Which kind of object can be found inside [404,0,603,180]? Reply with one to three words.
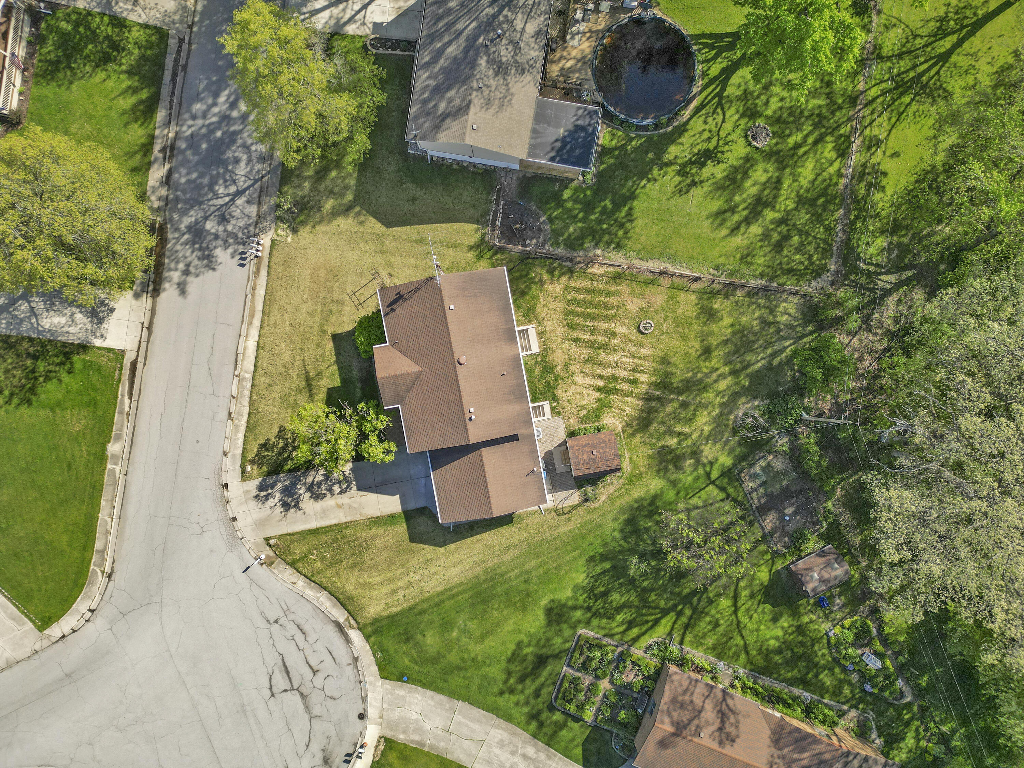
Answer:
house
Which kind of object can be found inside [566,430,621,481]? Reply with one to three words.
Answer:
shed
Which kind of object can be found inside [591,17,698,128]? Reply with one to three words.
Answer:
swimming pool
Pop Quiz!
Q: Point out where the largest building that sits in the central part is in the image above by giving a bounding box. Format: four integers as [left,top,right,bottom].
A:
[373,266,550,531]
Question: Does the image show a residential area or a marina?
residential area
